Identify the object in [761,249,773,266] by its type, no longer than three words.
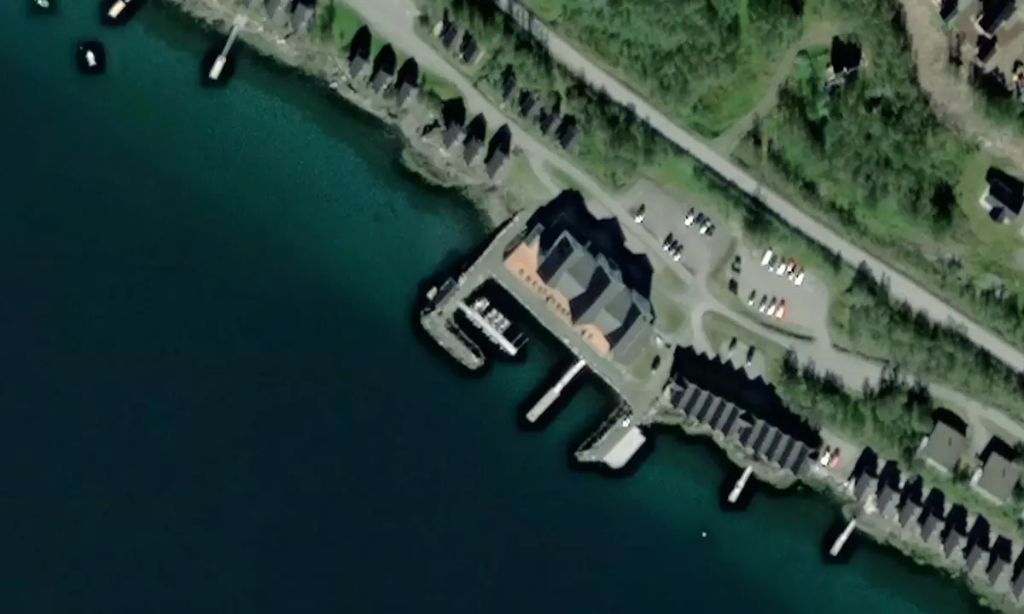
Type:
vehicle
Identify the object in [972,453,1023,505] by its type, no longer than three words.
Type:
house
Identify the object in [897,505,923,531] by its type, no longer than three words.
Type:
building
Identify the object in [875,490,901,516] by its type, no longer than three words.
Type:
building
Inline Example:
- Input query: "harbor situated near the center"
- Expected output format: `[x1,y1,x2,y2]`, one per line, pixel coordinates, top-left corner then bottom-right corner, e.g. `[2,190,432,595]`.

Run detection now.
[419,217,662,464]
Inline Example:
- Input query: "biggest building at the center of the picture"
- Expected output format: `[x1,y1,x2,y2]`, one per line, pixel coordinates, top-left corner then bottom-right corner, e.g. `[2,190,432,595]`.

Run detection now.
[530,218,658,366]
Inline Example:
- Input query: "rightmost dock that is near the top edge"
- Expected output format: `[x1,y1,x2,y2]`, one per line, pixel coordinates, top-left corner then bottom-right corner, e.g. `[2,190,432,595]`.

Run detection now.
[210,29,235,81]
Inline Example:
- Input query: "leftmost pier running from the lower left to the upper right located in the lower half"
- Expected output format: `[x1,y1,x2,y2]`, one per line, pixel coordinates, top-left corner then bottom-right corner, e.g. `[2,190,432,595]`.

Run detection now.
[526,359,585,422]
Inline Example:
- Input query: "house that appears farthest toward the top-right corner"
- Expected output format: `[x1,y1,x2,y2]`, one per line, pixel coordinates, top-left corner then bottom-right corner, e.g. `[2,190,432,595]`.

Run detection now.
[971,0,1016,36]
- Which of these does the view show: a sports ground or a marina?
marina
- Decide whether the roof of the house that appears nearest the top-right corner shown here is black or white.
black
